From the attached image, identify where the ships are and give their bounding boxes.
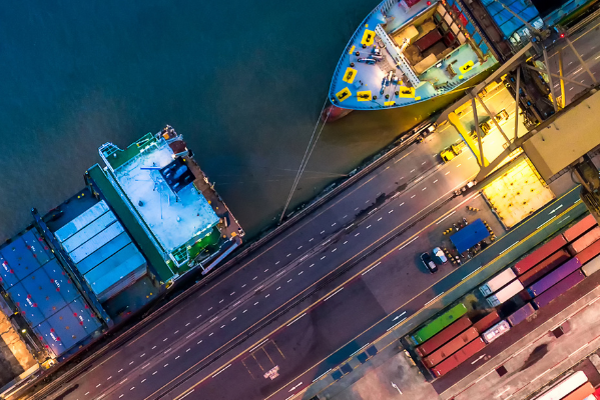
[0,129,243,400]
[321,0,493,123]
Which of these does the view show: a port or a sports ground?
port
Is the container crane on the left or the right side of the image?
right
